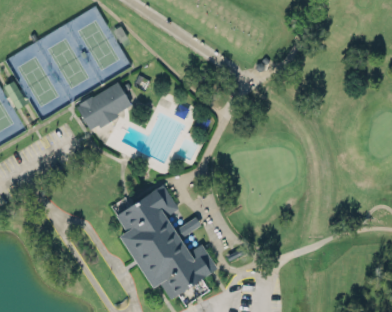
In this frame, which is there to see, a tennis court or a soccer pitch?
tennis court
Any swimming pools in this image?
Yes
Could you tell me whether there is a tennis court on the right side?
No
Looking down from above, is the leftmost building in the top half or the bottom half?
top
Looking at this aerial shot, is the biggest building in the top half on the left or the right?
left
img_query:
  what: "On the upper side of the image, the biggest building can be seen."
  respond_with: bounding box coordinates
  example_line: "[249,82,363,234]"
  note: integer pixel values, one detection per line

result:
[78,82,132,129]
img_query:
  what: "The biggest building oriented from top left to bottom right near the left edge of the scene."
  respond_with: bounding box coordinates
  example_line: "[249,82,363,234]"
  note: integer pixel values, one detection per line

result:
[4,81,28,110]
